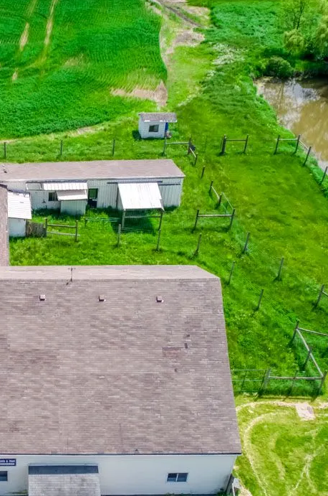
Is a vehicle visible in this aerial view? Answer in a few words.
No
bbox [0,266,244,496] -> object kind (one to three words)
building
